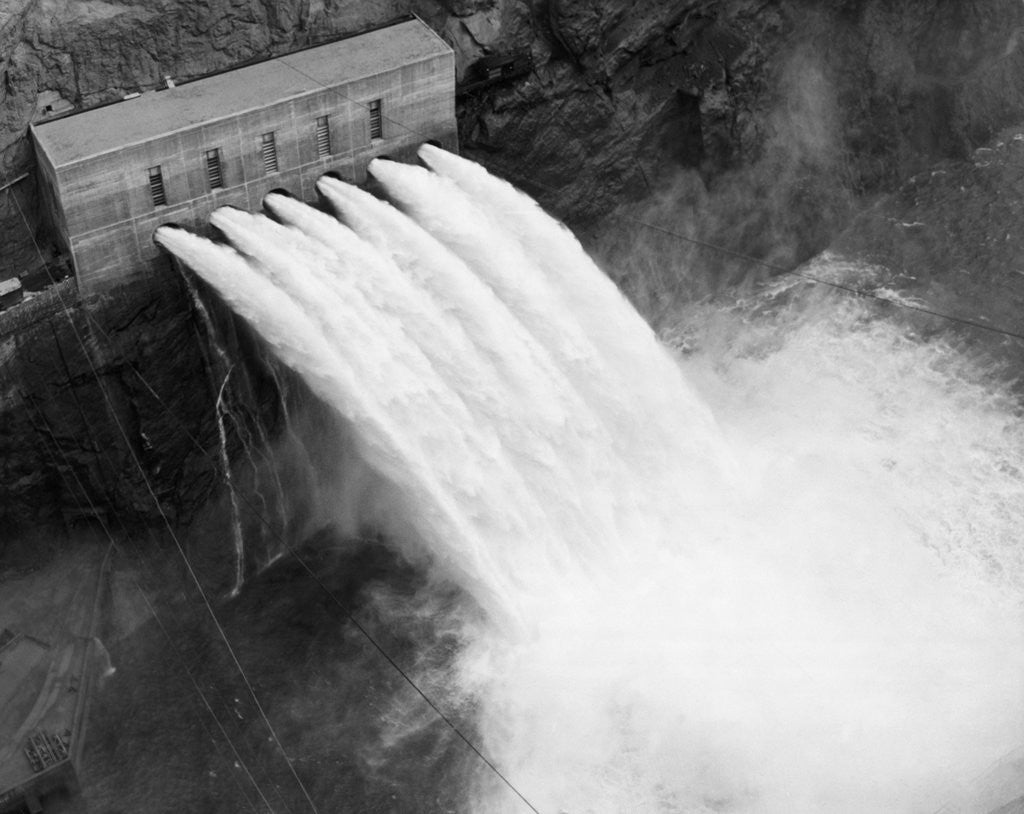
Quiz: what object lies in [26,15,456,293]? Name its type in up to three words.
building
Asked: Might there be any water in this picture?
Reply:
Yes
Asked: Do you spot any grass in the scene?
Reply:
No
